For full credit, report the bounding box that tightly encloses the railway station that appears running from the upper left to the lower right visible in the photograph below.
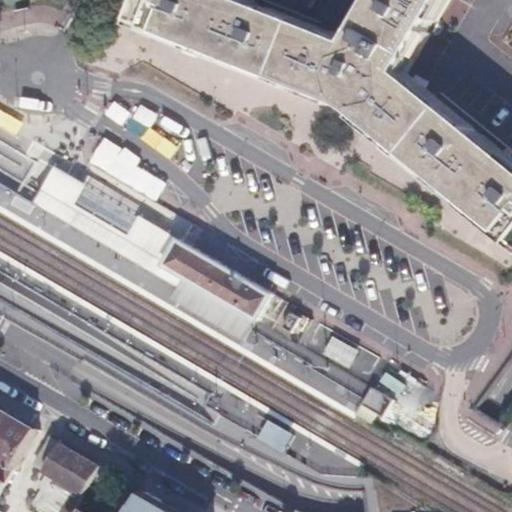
[0,165,364,475]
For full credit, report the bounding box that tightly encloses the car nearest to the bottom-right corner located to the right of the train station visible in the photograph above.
[404,364,426,382]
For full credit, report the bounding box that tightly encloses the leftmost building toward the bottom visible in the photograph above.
[0,405,38,490]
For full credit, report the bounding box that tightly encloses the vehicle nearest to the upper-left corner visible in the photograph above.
[20,98,52,112]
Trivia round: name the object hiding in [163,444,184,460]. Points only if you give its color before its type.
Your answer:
blue car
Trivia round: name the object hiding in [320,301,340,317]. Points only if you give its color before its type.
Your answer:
white car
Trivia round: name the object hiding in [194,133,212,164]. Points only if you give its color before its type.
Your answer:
white vehicle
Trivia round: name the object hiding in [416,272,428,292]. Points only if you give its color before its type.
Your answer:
white vehicle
